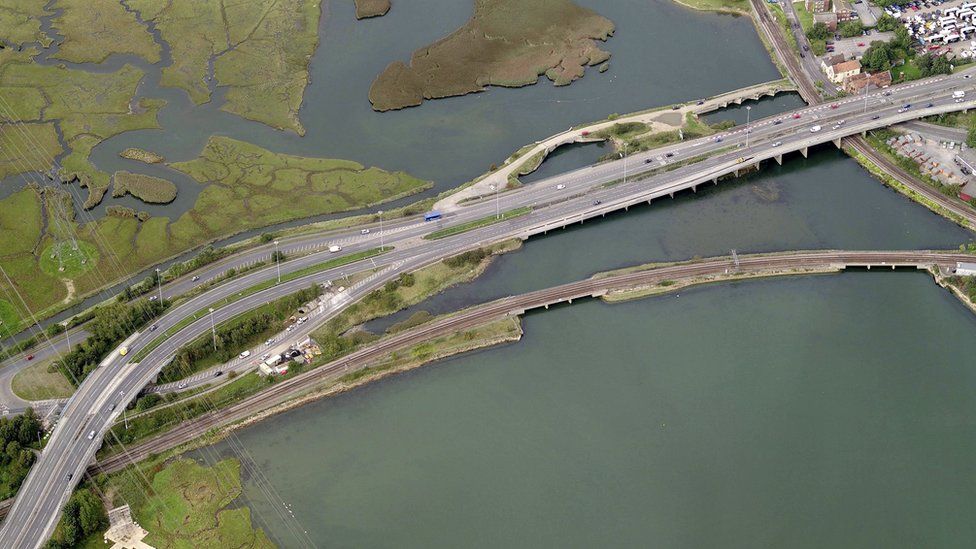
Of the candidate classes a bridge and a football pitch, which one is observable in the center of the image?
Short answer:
bridge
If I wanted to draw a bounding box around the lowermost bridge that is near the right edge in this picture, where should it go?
[829,249,935,275]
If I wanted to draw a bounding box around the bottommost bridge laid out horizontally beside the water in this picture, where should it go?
[504,272,608,317]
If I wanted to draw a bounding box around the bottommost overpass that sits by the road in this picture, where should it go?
[0,337,176,549]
